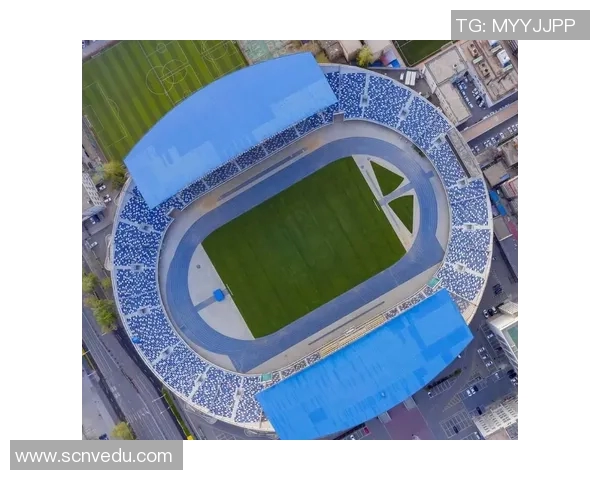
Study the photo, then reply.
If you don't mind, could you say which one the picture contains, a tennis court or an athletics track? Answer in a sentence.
The one in the frame is an athletics track.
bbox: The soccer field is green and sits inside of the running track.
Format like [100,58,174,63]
[200,156,407,338]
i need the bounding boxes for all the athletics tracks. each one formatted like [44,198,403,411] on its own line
[167,135,449,372]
